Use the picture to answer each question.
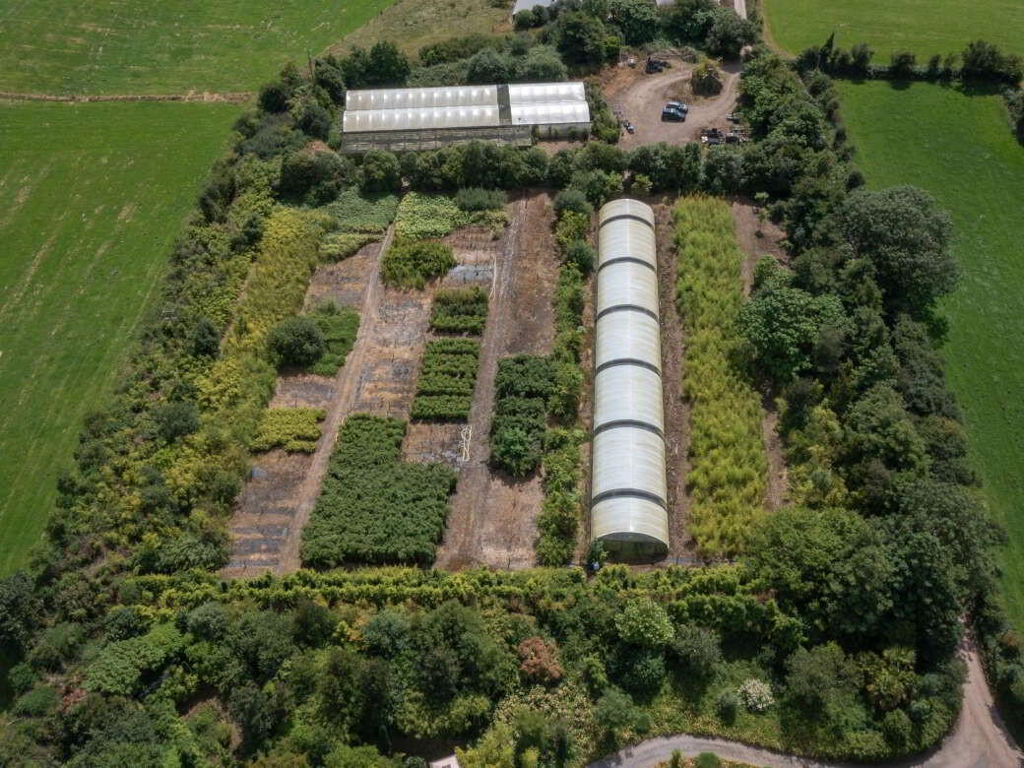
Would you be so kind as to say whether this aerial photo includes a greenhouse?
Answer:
Yes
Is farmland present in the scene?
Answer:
Yes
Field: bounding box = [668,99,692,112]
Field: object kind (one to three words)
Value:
vehicle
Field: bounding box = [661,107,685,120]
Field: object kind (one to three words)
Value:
vehicle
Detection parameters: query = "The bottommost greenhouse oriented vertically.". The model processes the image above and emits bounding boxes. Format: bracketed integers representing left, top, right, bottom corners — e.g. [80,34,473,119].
[591,199,672,551]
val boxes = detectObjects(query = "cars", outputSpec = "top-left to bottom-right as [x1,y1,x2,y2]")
[661,107,685,120]
[668,99,692,112]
